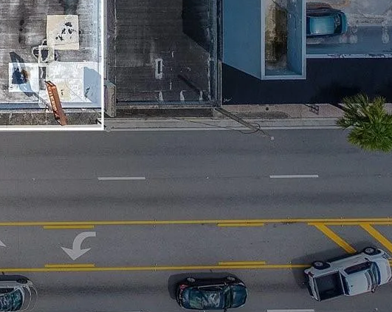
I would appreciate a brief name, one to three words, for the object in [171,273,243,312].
car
